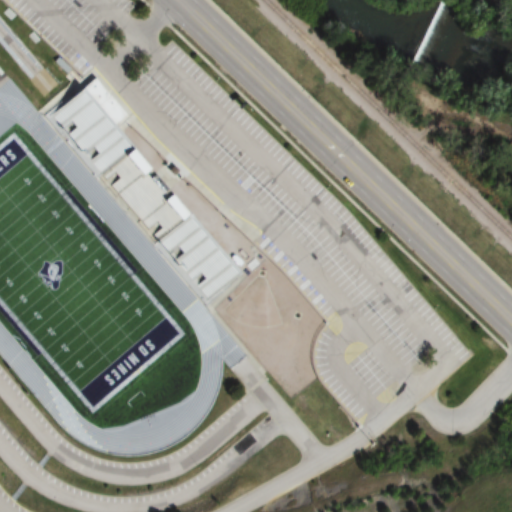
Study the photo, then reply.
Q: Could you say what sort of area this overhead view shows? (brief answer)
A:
sports ground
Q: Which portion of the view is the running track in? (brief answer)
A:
left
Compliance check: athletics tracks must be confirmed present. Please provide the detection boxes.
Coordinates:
[0,76,247,457]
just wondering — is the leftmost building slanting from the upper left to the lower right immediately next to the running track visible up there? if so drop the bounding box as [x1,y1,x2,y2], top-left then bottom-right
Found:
[0,23,58,96]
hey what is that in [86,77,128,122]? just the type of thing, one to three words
building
